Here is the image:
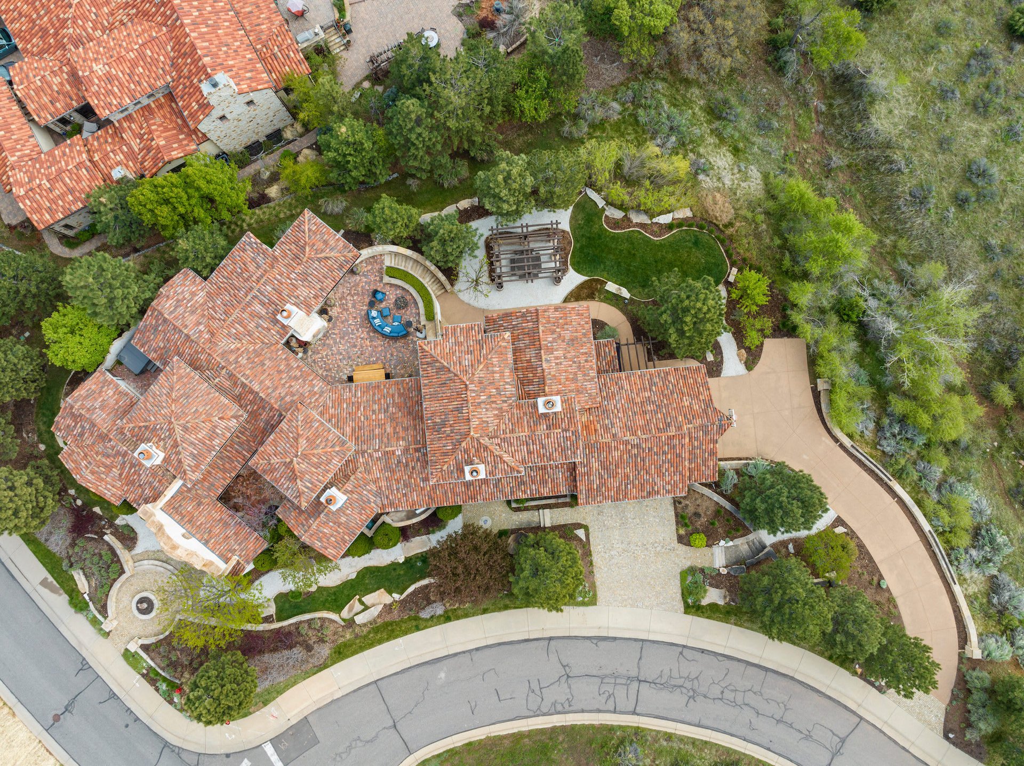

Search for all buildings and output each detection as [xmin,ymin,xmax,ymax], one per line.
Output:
[50,207,736,580]
[0,0,312,238]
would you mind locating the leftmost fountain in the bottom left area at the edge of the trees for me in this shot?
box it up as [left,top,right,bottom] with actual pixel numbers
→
[129,592,158,621]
